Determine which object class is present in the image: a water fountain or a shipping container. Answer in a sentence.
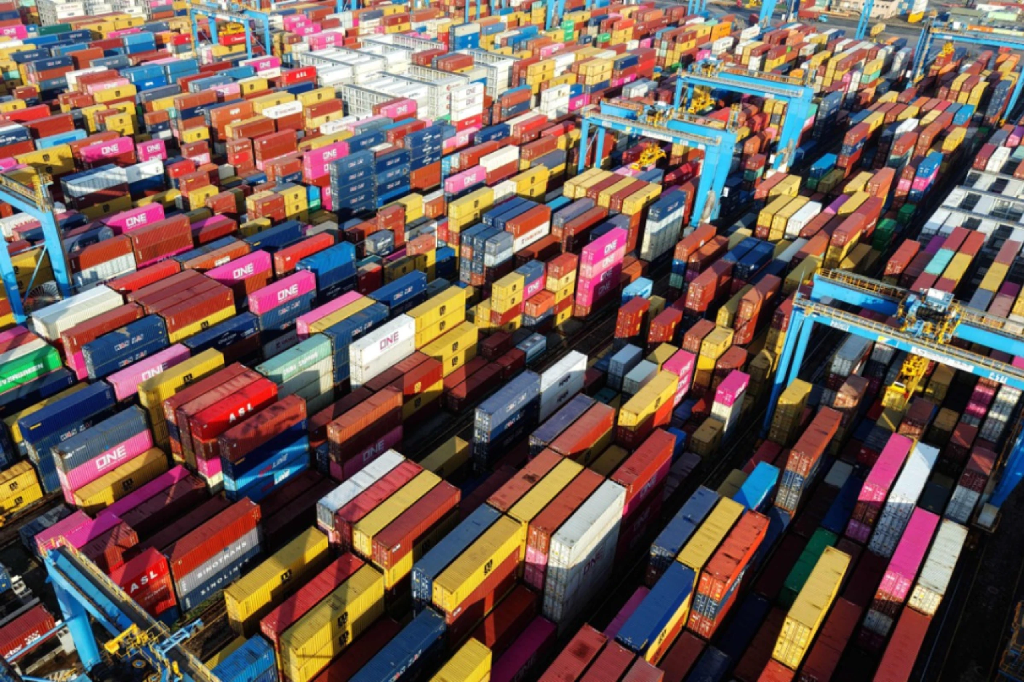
Of the two, only a shipping container appears.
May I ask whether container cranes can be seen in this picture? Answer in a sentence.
Yes, a container crane can be made out from above.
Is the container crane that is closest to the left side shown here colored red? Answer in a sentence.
No, from above the container crane that is closest to the left side looks blue.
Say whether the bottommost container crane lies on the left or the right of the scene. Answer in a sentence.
You can find the bottommost container crane on the left side of the picture.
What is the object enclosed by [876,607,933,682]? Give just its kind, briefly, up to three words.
shipping container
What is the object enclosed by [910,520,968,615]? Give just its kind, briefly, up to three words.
shipping container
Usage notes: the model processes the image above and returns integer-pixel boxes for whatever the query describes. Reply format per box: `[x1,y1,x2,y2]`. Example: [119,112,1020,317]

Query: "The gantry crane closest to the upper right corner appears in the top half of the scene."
[906,15,1024,120]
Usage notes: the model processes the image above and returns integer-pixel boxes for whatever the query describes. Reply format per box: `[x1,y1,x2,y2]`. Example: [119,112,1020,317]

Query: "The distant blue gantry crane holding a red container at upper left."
[186,0,282,101]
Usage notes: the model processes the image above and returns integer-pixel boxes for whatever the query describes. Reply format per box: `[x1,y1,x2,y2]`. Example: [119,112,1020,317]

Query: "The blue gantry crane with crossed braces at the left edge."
[0,169,73,329]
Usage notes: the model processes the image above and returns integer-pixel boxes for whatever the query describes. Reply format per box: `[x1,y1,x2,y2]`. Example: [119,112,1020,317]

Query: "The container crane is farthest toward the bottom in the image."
[0,529,296,682]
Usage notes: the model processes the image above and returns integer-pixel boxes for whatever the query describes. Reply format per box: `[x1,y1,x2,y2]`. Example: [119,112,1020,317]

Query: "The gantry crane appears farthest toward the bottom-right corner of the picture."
[754,272,1024,538]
